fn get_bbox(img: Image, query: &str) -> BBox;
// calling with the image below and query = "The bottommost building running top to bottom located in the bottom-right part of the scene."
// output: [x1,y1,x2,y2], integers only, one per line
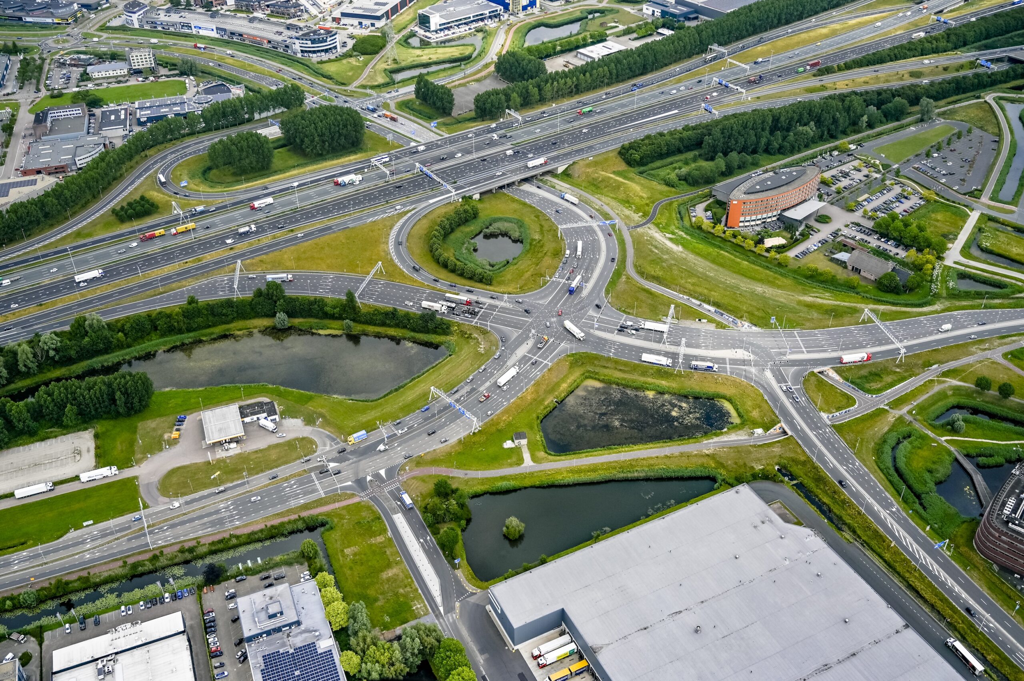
[973,461,1024,582]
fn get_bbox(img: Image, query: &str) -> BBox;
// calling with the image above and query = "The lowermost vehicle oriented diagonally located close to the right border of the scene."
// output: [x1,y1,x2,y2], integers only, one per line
[943,633,989,677]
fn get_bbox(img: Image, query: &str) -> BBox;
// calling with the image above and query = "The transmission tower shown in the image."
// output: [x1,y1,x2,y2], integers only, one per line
[382,9,401,65]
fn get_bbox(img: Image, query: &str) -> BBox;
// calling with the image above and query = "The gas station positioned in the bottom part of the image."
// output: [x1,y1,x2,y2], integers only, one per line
[201,403,245,447]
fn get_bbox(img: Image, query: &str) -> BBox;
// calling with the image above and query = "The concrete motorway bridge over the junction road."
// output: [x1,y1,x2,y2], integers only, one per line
[392,125,575,200]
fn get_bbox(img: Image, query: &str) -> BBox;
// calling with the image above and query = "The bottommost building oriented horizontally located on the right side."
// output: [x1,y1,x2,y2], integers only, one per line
[489,482,968,681]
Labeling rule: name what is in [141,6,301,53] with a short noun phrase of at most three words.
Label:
building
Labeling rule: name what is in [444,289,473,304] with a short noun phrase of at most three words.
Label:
vehicle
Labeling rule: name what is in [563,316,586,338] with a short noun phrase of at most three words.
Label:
truck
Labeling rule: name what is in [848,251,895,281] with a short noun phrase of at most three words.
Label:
house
